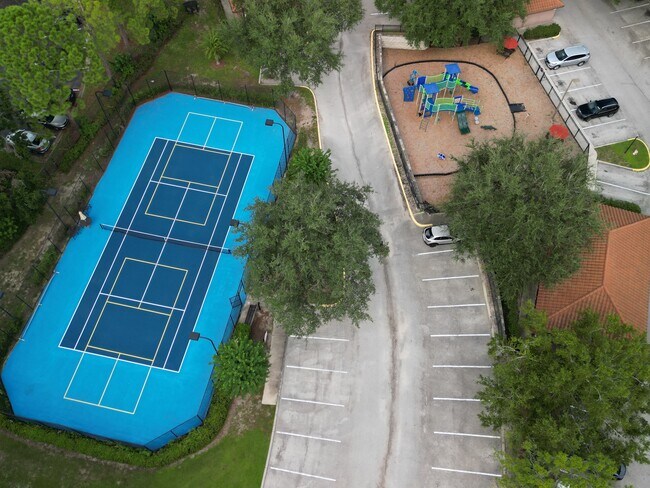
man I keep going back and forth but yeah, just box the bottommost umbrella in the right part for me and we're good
[548,126,567,142]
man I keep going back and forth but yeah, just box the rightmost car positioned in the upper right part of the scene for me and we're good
[576,96,622,122]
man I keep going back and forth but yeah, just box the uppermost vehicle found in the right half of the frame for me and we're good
[547,46,590,70]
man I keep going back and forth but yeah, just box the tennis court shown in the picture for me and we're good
[2,92,295,452]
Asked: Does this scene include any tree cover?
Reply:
Yes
